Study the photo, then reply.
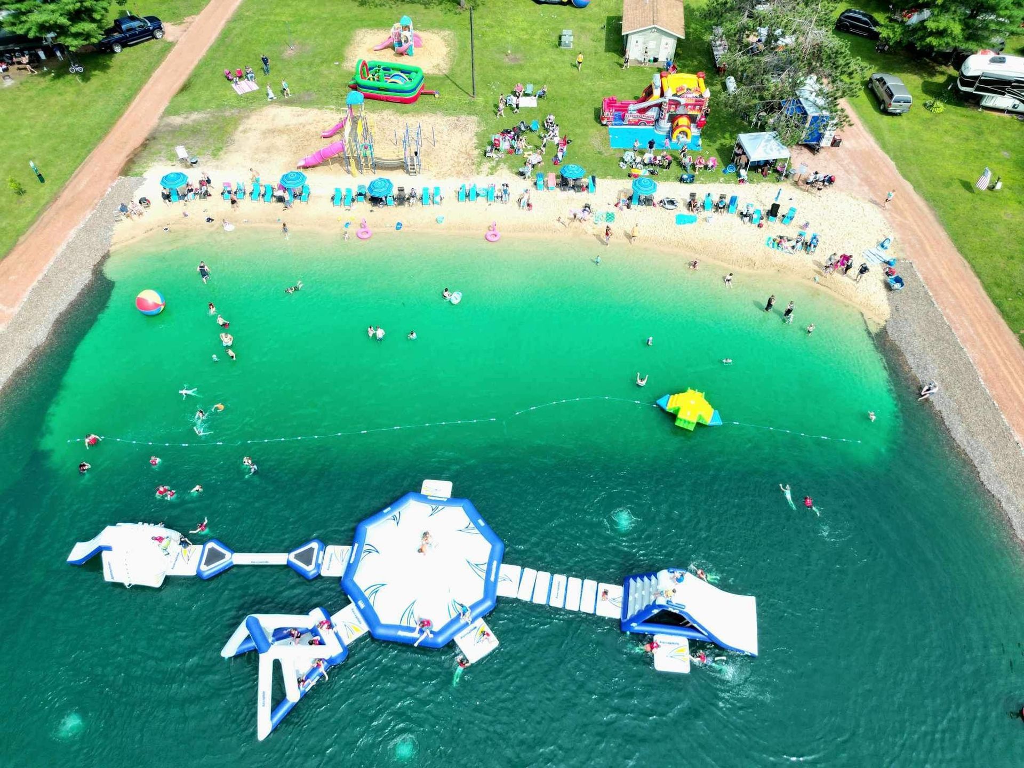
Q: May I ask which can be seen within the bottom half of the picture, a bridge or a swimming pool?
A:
bridge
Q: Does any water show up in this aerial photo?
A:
Yes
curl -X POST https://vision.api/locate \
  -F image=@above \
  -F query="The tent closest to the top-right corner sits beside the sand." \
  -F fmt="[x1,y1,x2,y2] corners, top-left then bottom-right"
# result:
[733,133,790,176]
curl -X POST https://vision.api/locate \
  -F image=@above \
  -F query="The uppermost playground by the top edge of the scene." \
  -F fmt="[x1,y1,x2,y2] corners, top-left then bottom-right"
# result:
[374,12,425,57]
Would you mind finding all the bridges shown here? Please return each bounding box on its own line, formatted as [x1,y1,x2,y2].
[517,568,598,614]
